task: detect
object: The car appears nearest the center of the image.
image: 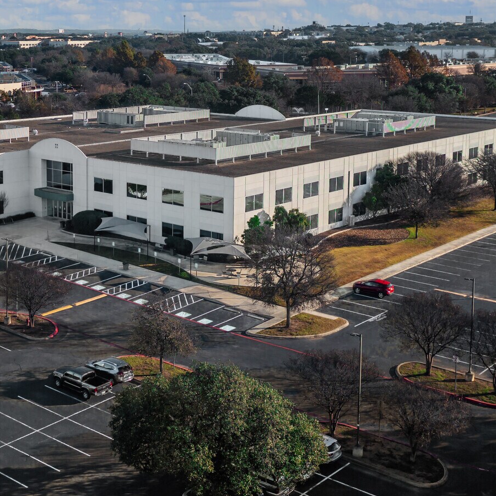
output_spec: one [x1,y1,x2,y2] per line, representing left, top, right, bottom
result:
[352,277,398,298]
